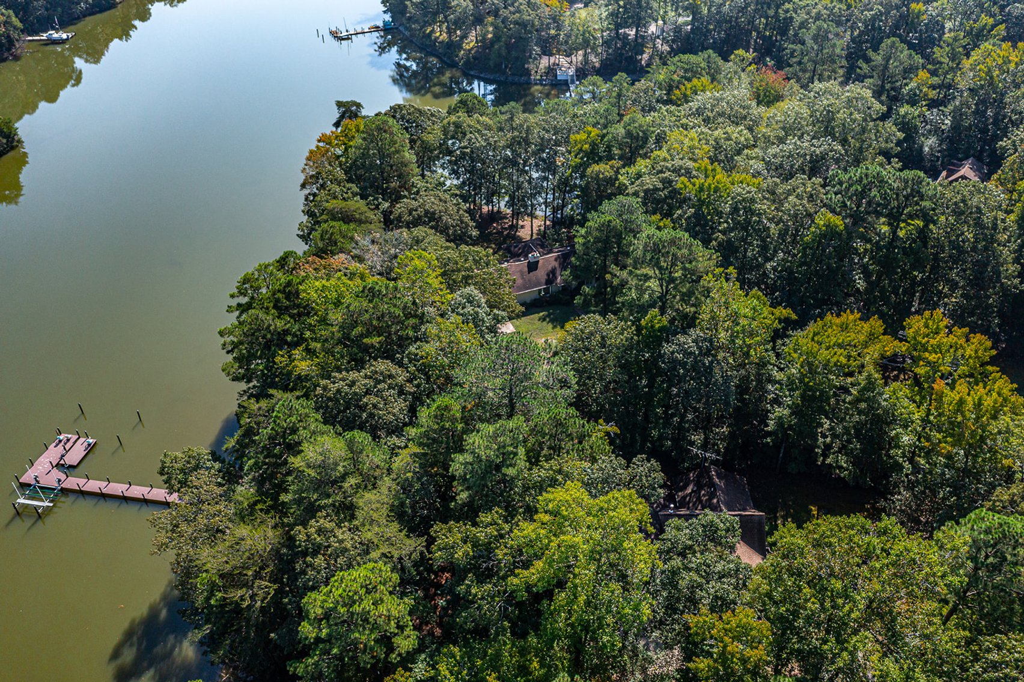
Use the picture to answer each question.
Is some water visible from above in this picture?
Yes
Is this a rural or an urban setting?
rural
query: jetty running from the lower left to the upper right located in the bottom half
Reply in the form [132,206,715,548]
[61,430,97,469]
